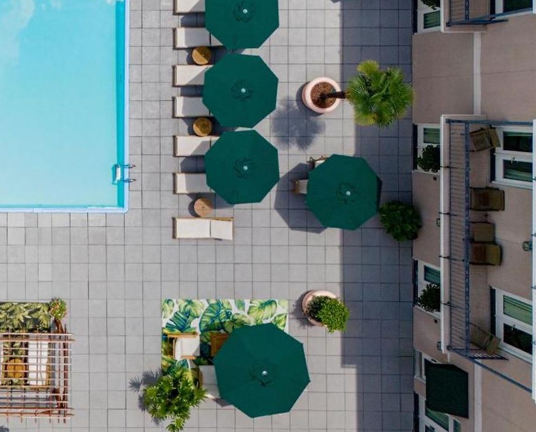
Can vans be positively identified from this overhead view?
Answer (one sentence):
No, there is no van in the image.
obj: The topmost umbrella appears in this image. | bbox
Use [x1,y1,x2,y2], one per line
[205,0,278,51]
